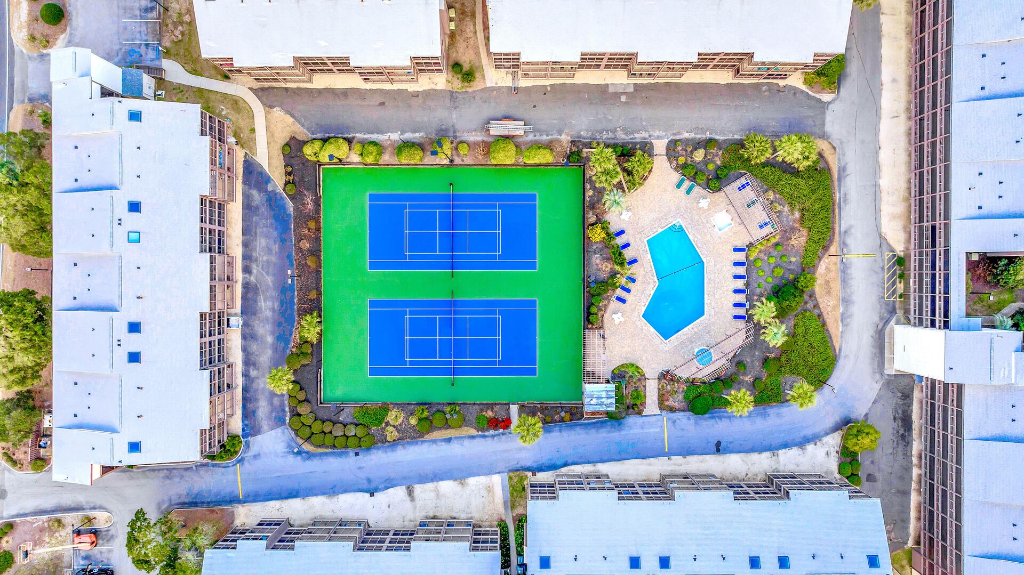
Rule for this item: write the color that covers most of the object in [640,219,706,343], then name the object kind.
blue swimming pool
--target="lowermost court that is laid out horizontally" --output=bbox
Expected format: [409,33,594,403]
[322,285,583,402]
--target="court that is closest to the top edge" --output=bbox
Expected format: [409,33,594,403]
[322,167,583,285]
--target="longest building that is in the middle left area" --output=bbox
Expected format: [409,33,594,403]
[49,44,236,487]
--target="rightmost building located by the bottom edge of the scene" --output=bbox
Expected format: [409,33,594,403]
[924,378,1024,575]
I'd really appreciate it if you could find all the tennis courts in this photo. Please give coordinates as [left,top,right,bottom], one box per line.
[322,285,583,402]
[322,167,583,285]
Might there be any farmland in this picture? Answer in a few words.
No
